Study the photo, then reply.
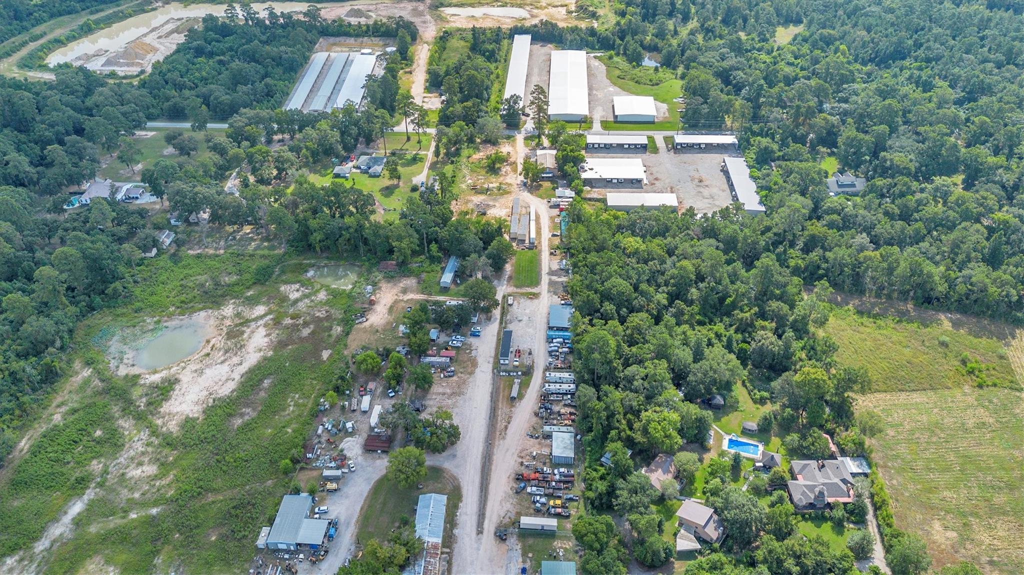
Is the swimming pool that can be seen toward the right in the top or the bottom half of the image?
bottom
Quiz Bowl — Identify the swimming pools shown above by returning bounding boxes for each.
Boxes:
[722,434,763,459]
[63,195,81,208]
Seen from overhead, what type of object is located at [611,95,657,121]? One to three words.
building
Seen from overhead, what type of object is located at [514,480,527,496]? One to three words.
vehicle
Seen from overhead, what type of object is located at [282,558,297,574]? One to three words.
work vehicle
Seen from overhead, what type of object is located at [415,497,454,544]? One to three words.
barn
